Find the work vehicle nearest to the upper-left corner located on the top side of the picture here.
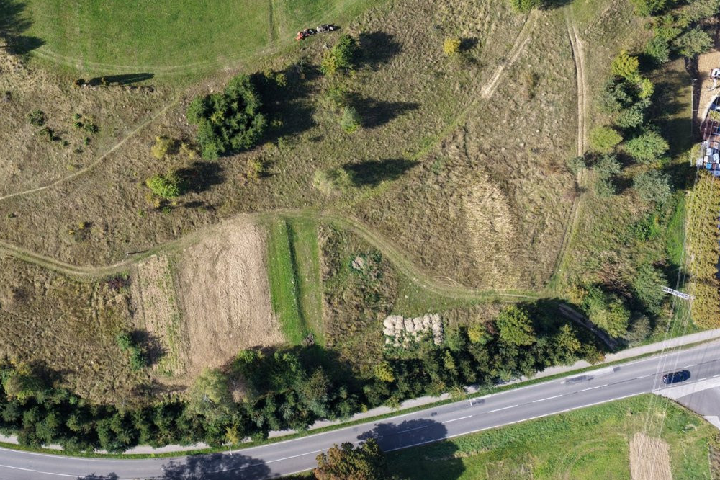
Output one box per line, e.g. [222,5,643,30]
[292,26,312,39]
